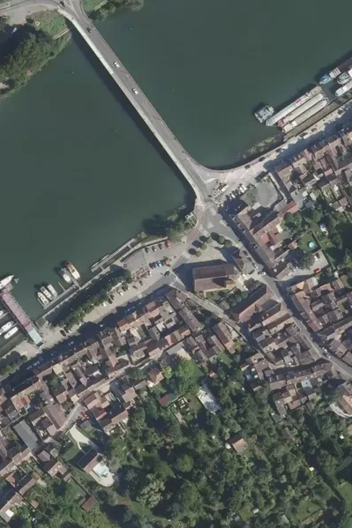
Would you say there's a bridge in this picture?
Yes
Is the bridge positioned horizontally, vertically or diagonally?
diagonally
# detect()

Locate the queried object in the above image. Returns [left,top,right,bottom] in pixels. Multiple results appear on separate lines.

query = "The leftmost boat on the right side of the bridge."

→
[255,104,275,121]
